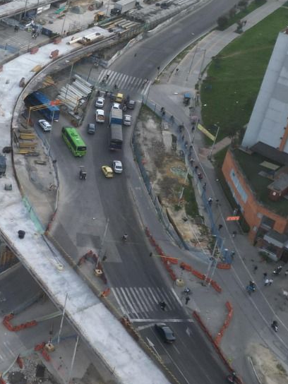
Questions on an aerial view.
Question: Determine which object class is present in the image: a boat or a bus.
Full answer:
The image shows a bus.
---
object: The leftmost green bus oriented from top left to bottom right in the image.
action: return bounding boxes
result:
[58,124,89,158]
